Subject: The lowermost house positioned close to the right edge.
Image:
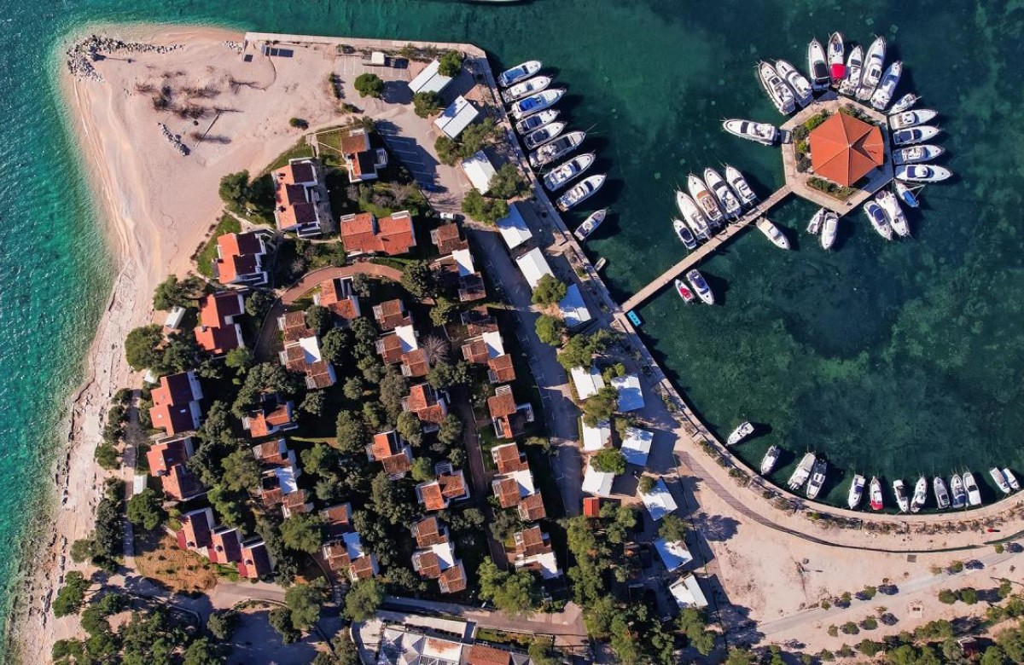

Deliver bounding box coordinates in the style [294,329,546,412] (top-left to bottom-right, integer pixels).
[948,628,978,658]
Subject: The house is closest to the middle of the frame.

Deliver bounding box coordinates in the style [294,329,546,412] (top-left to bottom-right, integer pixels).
[461,307,515,384]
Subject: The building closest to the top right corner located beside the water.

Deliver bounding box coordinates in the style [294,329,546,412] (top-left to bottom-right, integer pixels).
[806,111,884,187]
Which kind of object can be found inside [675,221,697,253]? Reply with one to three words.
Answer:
boat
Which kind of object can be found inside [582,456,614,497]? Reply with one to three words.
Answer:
building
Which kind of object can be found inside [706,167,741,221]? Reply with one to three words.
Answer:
boat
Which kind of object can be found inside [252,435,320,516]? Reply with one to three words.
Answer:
house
